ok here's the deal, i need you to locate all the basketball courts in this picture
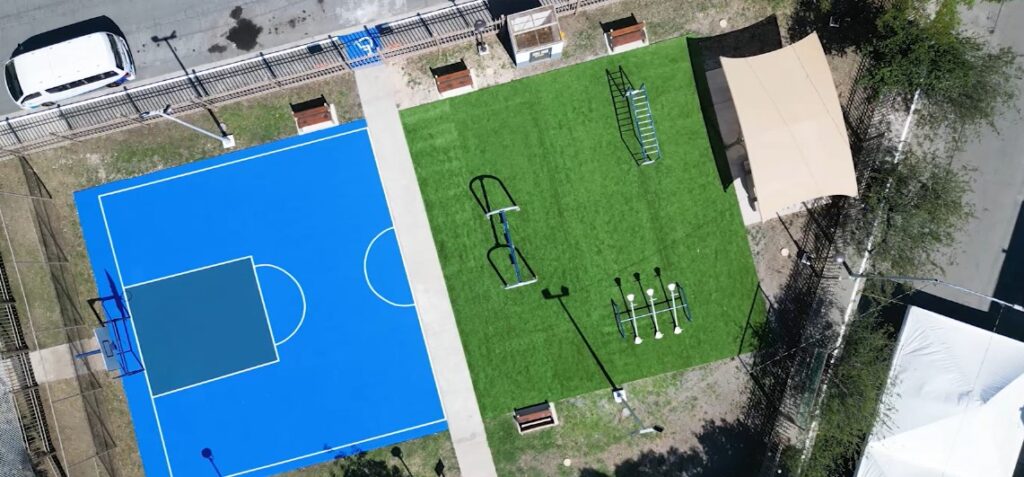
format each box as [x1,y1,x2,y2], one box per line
[75,121,450,477]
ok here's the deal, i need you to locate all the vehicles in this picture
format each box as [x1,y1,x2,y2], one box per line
[7,34,138,108]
